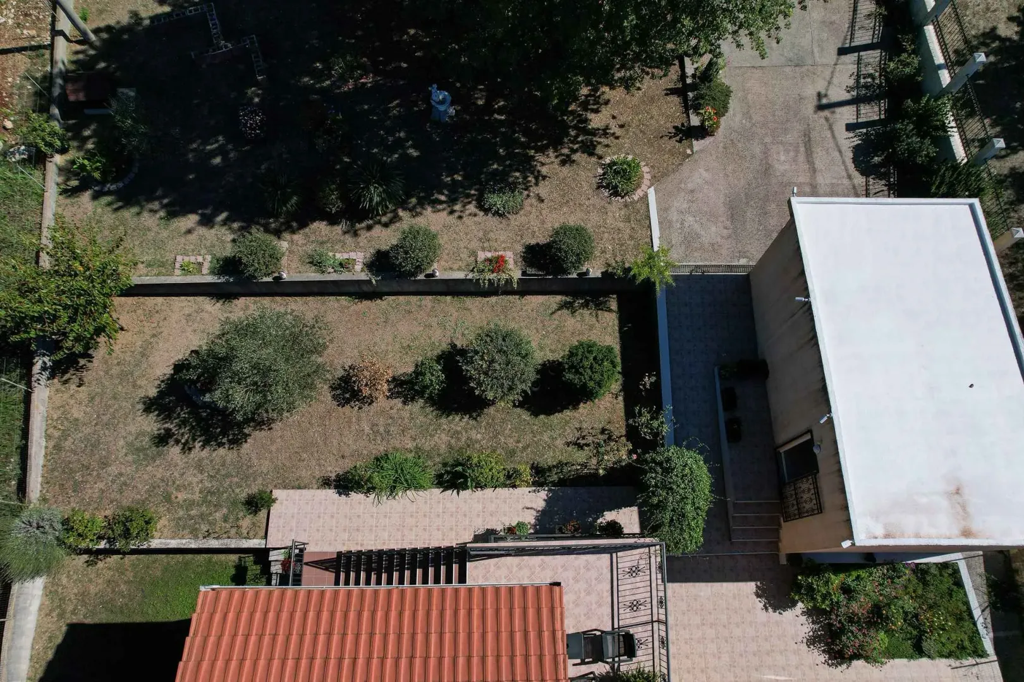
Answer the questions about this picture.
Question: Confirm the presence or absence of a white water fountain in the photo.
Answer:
No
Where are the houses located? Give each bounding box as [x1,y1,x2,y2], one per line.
[166,576,572,682]
[750,197,1024,554]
